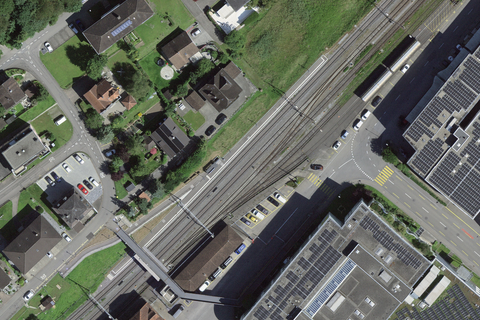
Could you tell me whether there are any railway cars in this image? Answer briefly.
Yes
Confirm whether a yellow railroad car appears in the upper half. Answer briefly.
No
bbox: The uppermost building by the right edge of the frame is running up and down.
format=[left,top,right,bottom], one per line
[401,42,480,218]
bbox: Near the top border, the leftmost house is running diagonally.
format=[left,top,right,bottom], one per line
[82,0,155,54]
